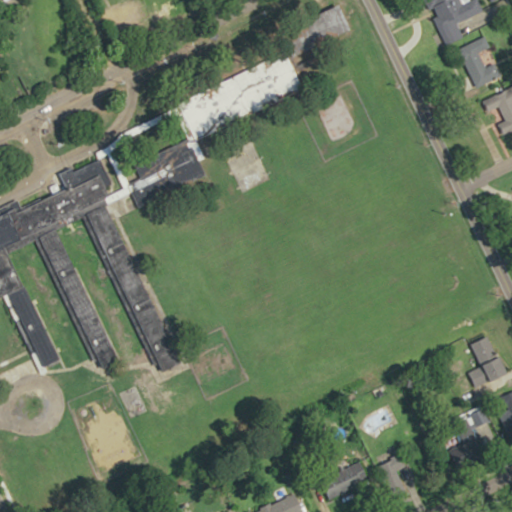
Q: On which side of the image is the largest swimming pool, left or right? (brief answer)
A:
right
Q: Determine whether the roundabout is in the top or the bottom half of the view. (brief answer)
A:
bottom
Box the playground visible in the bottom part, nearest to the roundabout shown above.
[68,383,148,470]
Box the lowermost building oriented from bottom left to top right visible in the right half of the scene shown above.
[326,462,366,500]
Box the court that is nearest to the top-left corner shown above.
[228,142,270,192]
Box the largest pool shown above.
[358,405,398,438]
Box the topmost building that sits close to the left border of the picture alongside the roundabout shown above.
[0,161,178,375]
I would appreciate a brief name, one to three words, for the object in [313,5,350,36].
building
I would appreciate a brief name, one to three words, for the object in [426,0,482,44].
house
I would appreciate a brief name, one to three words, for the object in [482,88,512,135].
house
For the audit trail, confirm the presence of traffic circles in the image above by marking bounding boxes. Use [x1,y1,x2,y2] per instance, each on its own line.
[0,374,64,436]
